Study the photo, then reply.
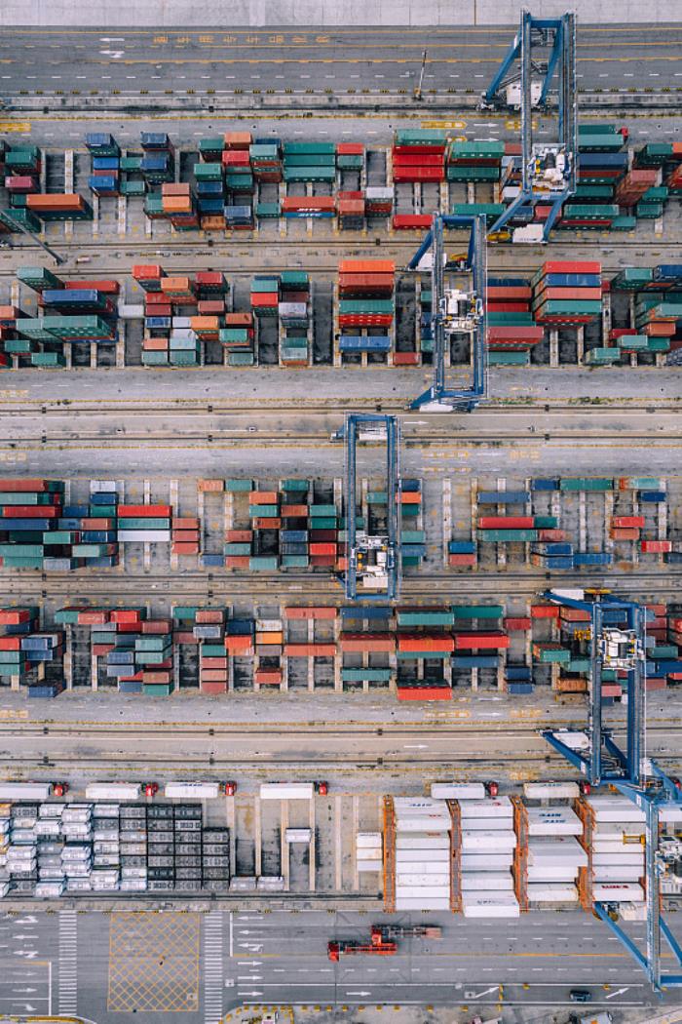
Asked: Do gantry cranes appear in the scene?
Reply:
Yes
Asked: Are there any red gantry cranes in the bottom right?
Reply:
No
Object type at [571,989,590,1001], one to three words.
vehicle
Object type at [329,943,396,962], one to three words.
vehicle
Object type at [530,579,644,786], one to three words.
container crane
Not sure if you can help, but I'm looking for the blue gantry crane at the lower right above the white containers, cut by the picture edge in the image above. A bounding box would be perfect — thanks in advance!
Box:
[578,758,682,987]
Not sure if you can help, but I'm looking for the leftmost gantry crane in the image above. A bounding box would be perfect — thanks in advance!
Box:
[326,413,408,600]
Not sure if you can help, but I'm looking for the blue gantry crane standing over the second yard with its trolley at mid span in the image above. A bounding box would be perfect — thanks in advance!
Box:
[398,211,487,413]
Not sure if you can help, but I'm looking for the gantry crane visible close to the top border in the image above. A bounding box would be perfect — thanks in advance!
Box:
[473,14,576,253]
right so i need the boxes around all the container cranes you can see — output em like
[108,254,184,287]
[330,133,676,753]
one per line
[578,758,682,987]
[326,413,408,600]
[530,579,644,786]
[398,211,487,413]
[473,14,576,253]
